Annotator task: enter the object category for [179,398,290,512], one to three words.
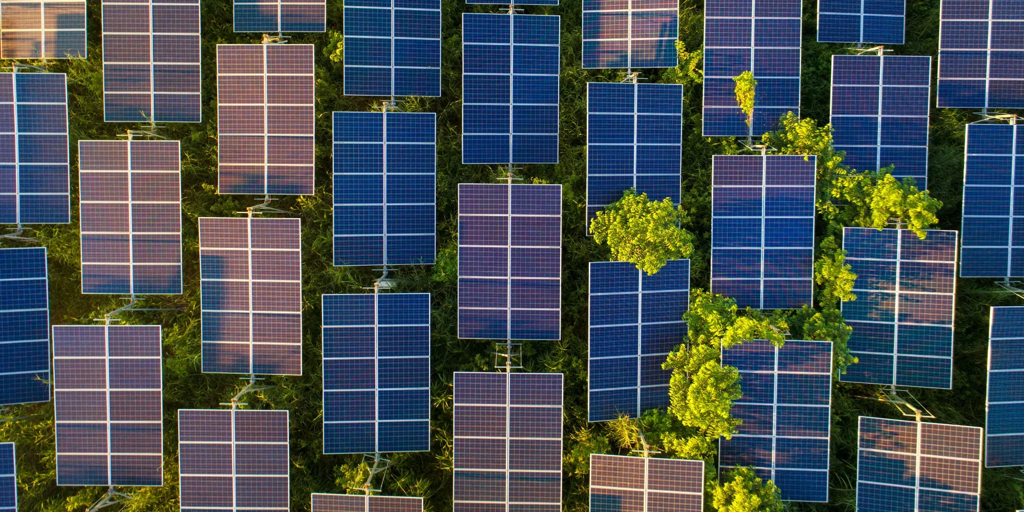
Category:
solar panel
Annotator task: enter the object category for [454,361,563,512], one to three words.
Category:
solar panel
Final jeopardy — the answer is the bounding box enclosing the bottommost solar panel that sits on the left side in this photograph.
[312,483,423,512]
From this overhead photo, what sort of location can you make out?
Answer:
solar farm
